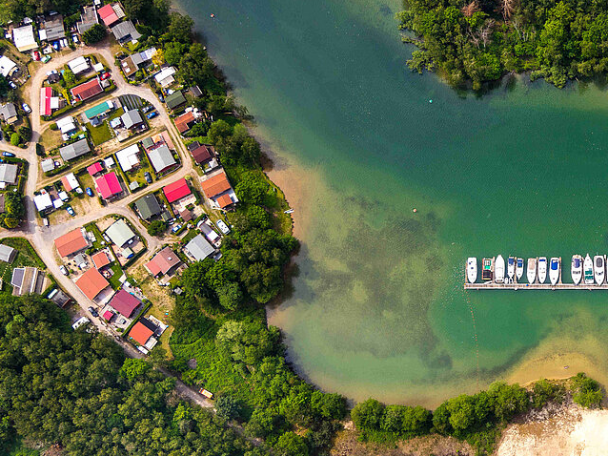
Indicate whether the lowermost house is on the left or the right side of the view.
left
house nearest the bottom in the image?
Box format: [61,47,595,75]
[129,316,160,345]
